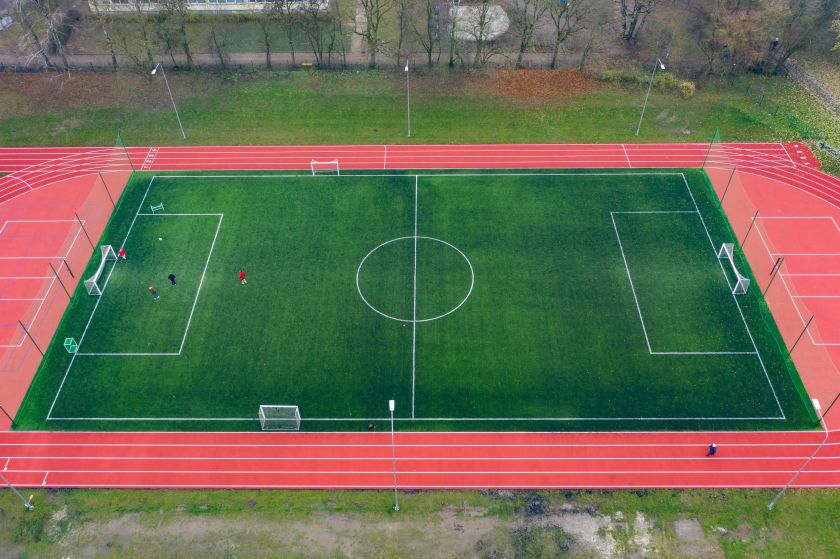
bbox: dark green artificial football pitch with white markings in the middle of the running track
[9,167,821,432]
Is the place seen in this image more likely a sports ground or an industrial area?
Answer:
sports ground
